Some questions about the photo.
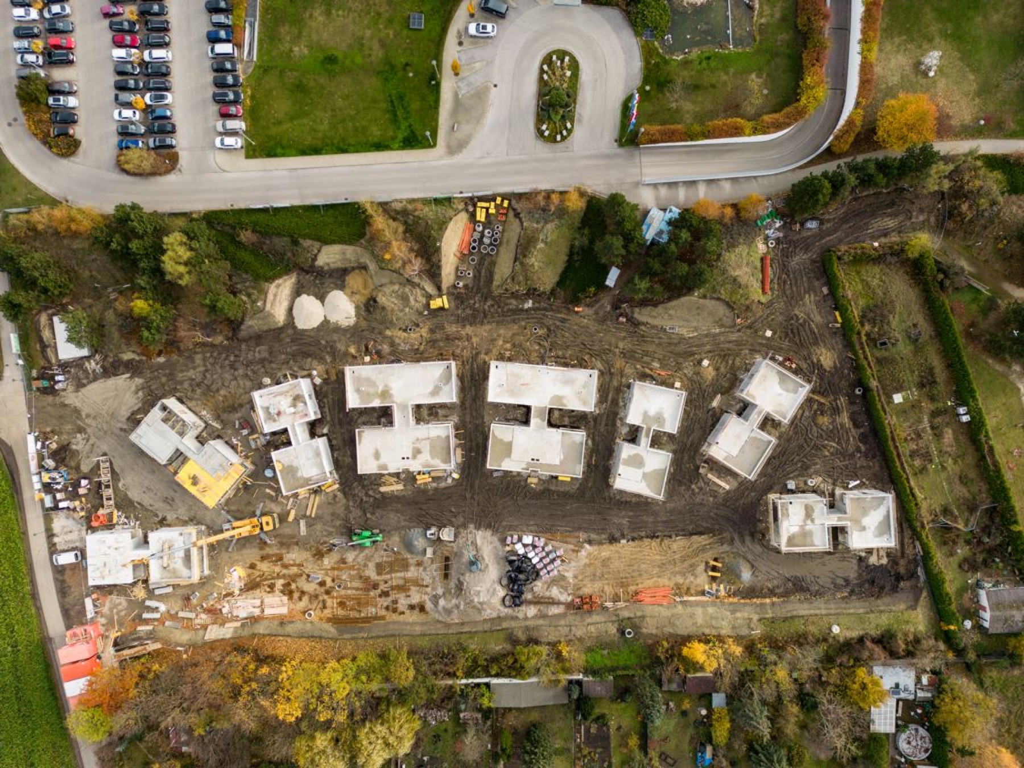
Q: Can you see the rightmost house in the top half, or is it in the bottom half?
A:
bottom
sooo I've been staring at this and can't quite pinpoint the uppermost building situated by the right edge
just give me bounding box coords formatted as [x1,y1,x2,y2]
[978,586,1024,633]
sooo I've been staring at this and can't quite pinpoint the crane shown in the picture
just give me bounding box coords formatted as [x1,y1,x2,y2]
[122,500,279,567]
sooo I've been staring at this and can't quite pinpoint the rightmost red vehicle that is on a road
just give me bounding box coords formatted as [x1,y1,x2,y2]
[220,104,243,118]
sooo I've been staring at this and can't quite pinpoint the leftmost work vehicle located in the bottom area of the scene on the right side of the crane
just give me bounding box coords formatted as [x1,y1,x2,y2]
[331,530,381,549]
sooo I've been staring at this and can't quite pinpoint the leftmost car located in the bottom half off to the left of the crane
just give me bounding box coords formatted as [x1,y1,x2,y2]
[50,550,83,565]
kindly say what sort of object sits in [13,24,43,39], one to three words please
car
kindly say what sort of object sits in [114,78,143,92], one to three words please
car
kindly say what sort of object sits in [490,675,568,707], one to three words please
shed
